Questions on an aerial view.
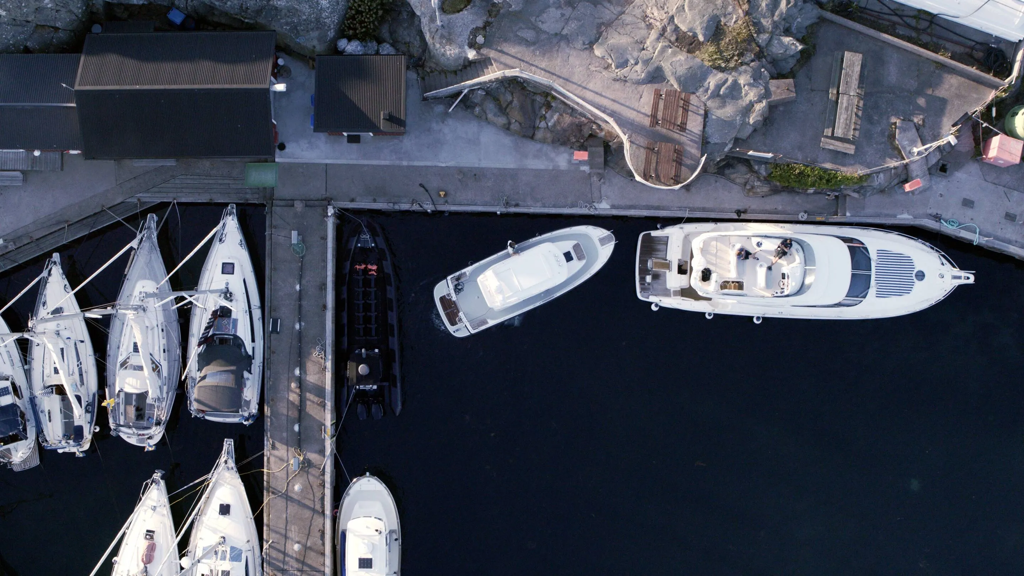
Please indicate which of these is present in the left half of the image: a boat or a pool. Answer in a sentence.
What appears in the left half of the image is a boat.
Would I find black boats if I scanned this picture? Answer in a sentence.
Yes, a black boat can be made out from above.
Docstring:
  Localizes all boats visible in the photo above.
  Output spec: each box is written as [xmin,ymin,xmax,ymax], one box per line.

[24,208,186,447]
[338,216,403,422]
[138,204,265,421]
[335,471,402,576]
[0,288,42,471]
[635,222,976,320]
[434,225,618,337]
[0,252,103,454]
[91,470,183,576]
[156,439,264,576]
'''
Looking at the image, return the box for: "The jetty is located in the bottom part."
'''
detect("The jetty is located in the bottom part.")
[264,203,339,576]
